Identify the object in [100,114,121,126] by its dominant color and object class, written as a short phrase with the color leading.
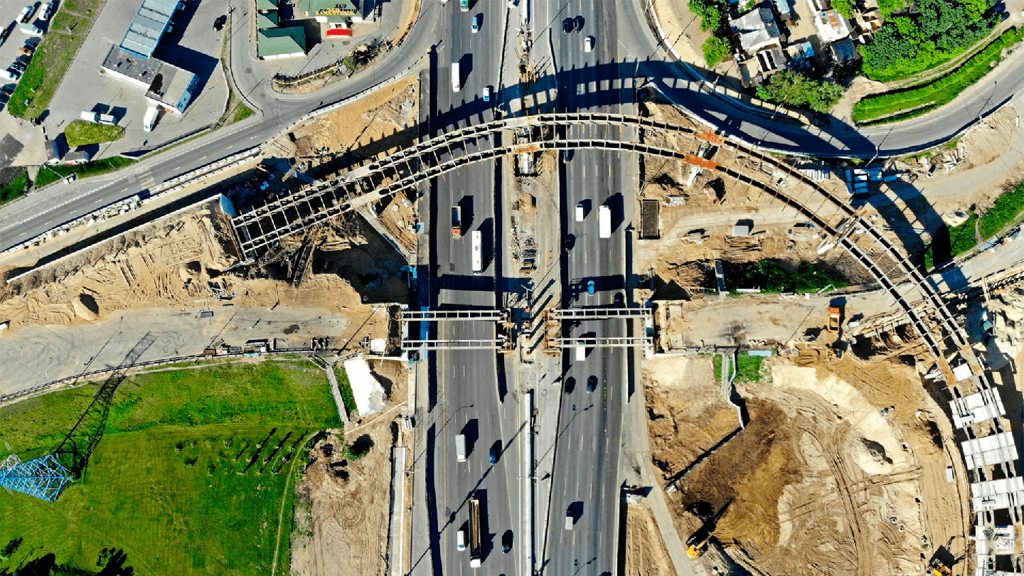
white vehicle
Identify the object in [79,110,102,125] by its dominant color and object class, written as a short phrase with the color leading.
white vehicle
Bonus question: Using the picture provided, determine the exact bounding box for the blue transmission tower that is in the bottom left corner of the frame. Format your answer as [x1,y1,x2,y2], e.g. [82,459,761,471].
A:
[0,449,83,507]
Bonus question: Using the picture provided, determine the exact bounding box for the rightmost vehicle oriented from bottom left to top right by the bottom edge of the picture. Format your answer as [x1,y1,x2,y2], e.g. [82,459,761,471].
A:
[685,532,717,565]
